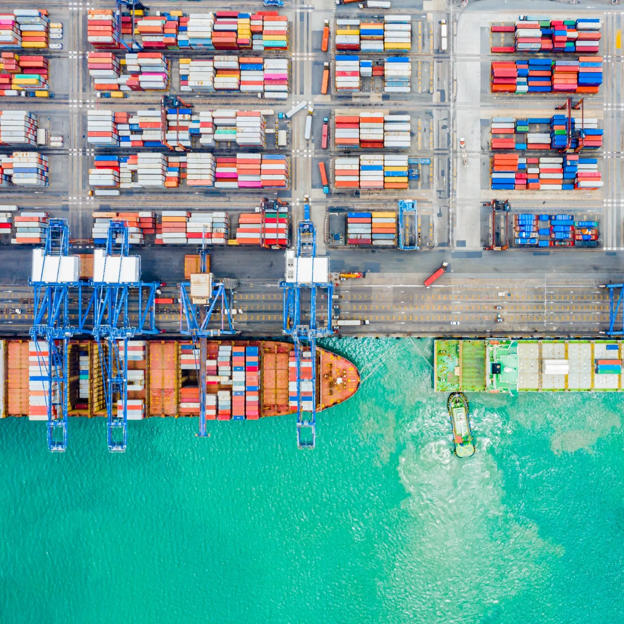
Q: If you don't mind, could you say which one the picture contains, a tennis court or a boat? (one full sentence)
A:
Of the two, only a boat appears.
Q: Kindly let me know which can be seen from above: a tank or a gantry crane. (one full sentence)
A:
I can see a gantry crane in this picture.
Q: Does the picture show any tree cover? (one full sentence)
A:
No, tree cover can't be seen anywhere here.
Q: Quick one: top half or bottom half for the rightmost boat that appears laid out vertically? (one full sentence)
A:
The rightmost boat that appears laid out vertically sits in the bottom half of the picture.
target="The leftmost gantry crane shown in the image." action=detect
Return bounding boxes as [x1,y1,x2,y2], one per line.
[30,216,106,450]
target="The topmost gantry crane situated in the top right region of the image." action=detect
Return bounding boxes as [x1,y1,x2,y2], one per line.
[554,98,586,153]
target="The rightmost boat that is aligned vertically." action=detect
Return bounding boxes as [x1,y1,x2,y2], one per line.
[448,392,475,457]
